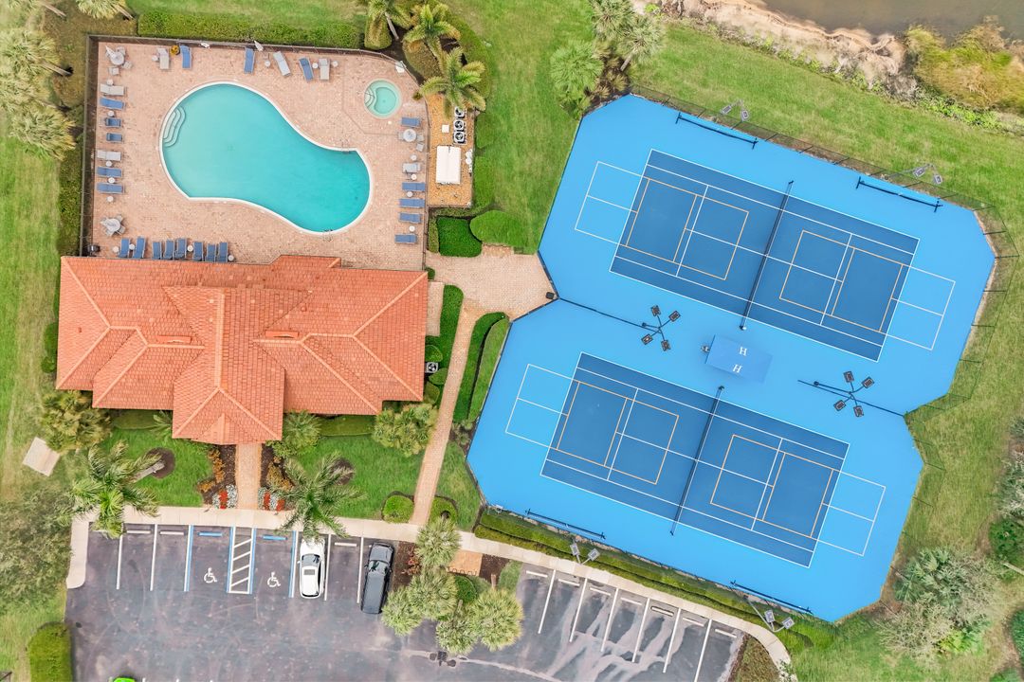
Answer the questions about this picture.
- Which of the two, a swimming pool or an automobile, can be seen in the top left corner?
swimming pool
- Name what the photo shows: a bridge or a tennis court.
tennis court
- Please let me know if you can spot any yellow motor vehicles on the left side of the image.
No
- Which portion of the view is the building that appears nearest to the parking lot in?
left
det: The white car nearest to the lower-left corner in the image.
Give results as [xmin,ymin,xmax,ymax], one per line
[296,541,324,600]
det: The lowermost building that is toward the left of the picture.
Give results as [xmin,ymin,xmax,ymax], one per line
[55,254,428,449]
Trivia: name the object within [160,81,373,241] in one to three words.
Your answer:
swimming pool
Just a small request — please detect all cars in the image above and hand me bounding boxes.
[111,677,135,682]
[361,546,393,619]
[296,541,324,600]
